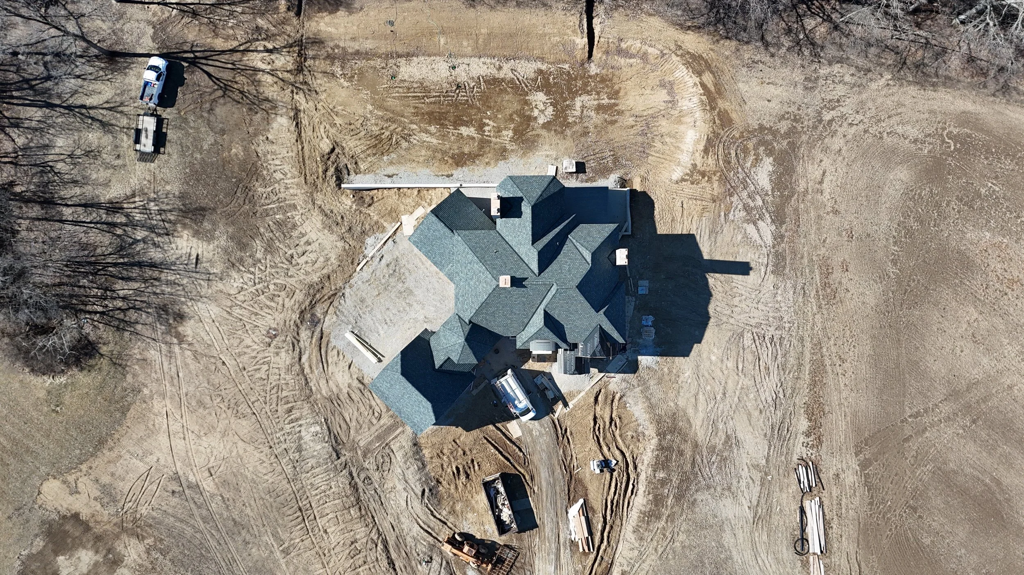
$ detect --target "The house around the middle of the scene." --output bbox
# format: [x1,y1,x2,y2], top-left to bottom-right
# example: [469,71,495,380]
[370,175,628,435]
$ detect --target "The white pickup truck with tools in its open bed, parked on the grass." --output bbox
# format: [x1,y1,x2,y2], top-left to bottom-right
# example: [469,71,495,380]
[139,57,168,108]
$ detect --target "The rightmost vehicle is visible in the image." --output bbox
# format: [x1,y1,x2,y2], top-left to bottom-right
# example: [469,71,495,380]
[591,458,615,475]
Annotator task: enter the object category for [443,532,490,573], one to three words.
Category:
work vehicle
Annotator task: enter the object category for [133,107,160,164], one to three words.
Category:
trailer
